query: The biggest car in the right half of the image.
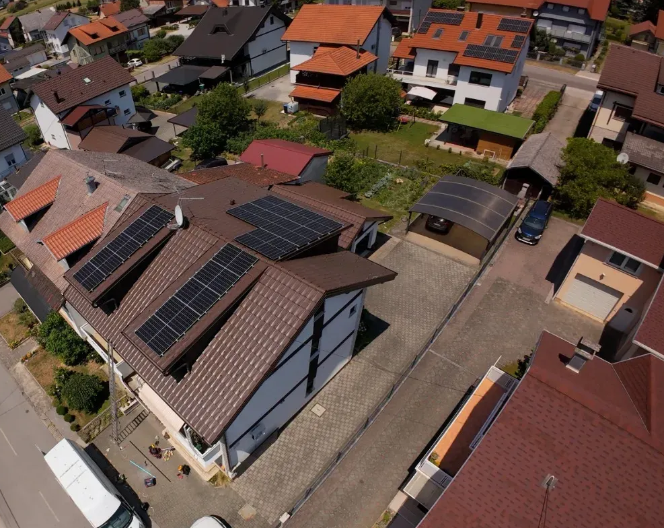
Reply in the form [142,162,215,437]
[517,189,559,237]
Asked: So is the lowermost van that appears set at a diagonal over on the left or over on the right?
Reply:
left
